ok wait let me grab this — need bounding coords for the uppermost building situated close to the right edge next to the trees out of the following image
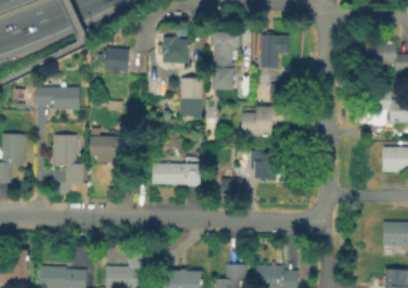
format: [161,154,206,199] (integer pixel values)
[378,42,408,74]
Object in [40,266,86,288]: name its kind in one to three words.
house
